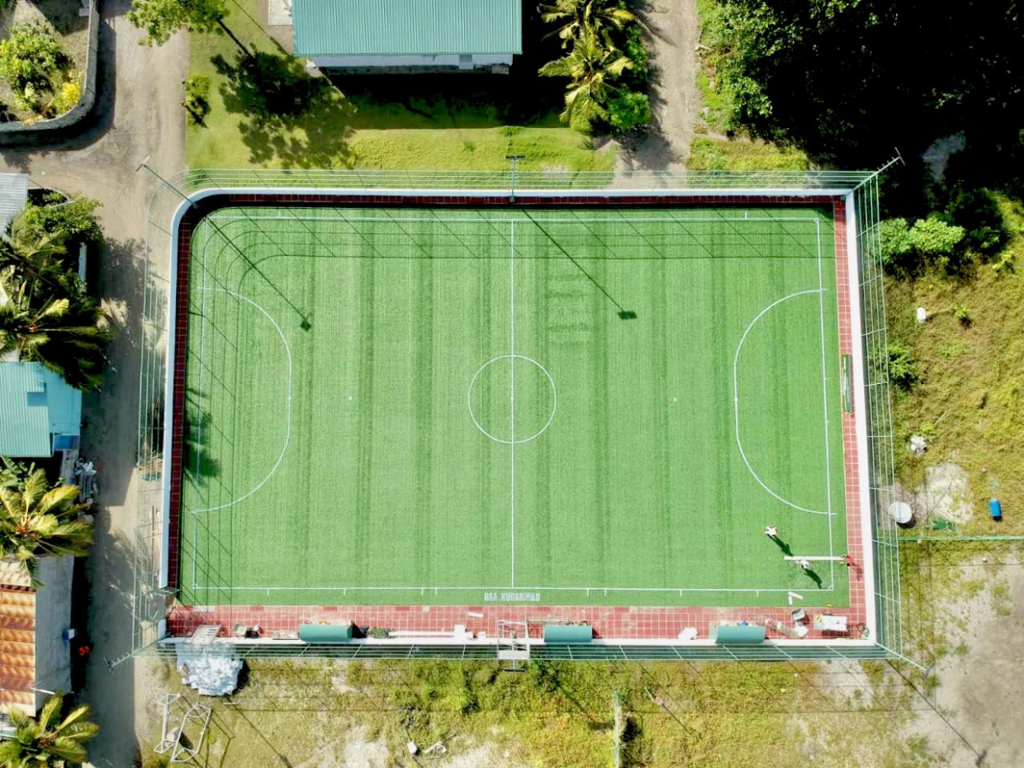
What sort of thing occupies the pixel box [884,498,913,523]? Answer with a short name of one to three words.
water tank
